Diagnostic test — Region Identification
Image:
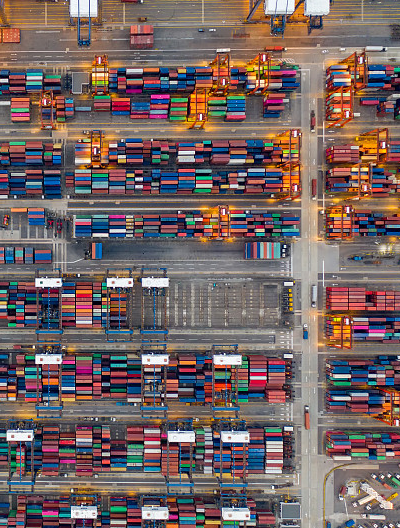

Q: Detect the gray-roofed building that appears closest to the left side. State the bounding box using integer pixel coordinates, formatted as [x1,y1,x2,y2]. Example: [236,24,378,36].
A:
[73,71,88,97]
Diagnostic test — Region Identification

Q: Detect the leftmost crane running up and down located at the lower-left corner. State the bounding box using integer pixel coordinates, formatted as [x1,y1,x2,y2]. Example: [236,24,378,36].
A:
[5,420,37,494]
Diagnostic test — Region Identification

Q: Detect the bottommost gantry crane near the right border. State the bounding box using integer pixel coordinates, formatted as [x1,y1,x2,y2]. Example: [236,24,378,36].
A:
[370,386,400,428]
